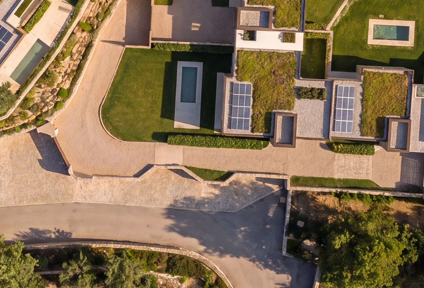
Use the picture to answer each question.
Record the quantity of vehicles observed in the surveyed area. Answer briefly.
0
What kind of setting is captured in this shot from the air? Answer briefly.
residential area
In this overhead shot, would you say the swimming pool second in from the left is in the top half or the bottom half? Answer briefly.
top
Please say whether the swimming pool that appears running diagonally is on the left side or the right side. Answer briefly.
left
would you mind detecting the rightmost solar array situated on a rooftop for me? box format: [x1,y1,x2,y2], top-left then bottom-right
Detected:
[335,85,355,132]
